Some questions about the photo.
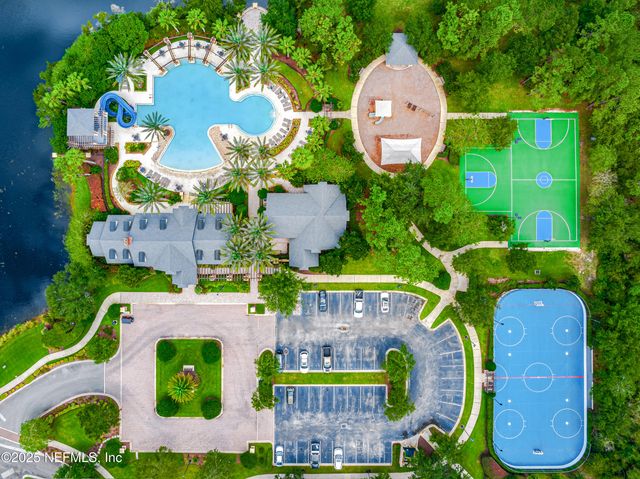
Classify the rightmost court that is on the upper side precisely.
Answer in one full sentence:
Specifically, the rightmost court that is on the upper side is a basketball court.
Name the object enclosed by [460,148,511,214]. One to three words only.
basketball court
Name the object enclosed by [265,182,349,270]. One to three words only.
building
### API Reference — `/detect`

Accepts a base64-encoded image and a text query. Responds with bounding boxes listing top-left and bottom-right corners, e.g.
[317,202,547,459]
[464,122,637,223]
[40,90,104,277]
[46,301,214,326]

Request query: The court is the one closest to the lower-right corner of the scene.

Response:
[492,289,591,472]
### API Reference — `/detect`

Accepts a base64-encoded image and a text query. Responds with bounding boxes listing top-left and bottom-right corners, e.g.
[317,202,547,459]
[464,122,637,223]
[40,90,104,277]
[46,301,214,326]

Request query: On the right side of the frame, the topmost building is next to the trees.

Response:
[384,34,418,69]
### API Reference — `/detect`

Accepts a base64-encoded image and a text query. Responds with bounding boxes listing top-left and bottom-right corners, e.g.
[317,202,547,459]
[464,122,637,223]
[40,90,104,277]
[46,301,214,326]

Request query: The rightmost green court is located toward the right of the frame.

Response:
[508,109,581,250]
